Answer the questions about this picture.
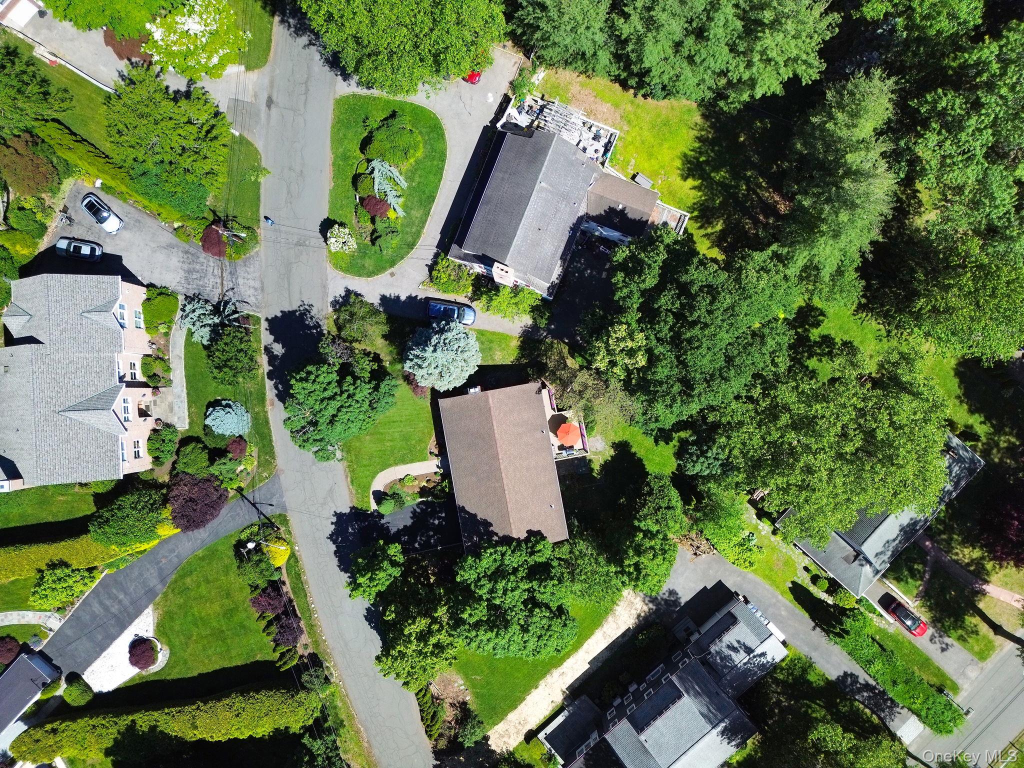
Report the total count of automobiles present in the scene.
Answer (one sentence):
The photo contains 5 automobiles.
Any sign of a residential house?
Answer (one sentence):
Yes, the image includes a residential house.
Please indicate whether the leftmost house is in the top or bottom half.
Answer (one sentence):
You can find the leftmost house in the bottom half.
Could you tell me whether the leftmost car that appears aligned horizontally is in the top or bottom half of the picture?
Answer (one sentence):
The leftmost car that appears aligned horizontally is in the top half of the image.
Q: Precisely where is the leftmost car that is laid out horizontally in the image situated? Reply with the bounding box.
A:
[55,235,108,263]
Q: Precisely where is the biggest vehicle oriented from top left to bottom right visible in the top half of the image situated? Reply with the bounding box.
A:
[81,191,127,236]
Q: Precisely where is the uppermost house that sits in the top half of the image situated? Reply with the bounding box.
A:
[449,130,661,301]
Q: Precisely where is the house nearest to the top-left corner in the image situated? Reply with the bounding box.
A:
[0,273,153,490]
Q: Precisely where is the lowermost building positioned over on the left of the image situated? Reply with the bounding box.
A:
[0,649,63,736]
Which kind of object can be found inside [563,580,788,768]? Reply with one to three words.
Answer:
house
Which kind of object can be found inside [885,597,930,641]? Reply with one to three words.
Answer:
car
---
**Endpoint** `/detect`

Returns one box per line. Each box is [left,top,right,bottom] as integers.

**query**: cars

[425,300,477,328]
[885,597,930,641]
[81,191,127,236]
[463,64,483,87]
[55,235,108,263]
